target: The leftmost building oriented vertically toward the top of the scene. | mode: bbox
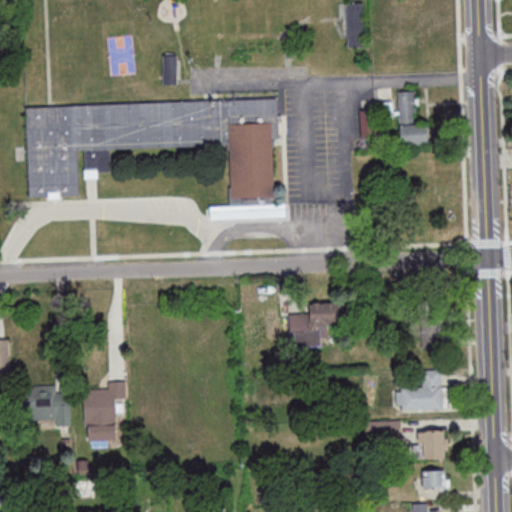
[162,56,177,85]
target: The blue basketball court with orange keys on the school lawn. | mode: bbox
[107,36,136,78]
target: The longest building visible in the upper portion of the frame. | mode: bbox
[26,98,286,221]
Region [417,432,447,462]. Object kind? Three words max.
house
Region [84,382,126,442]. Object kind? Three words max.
house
